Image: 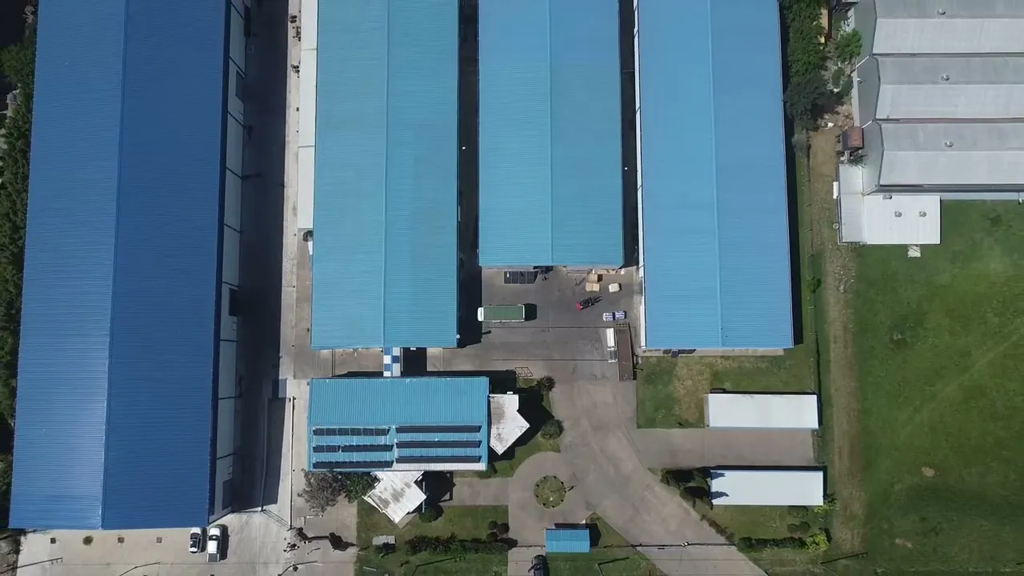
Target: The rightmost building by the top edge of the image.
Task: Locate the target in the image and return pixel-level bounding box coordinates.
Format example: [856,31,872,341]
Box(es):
[854,0,1024,209]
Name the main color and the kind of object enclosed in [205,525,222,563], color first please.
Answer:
white vehicle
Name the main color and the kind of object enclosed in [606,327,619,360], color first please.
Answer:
white vehicle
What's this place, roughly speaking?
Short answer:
industrial area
